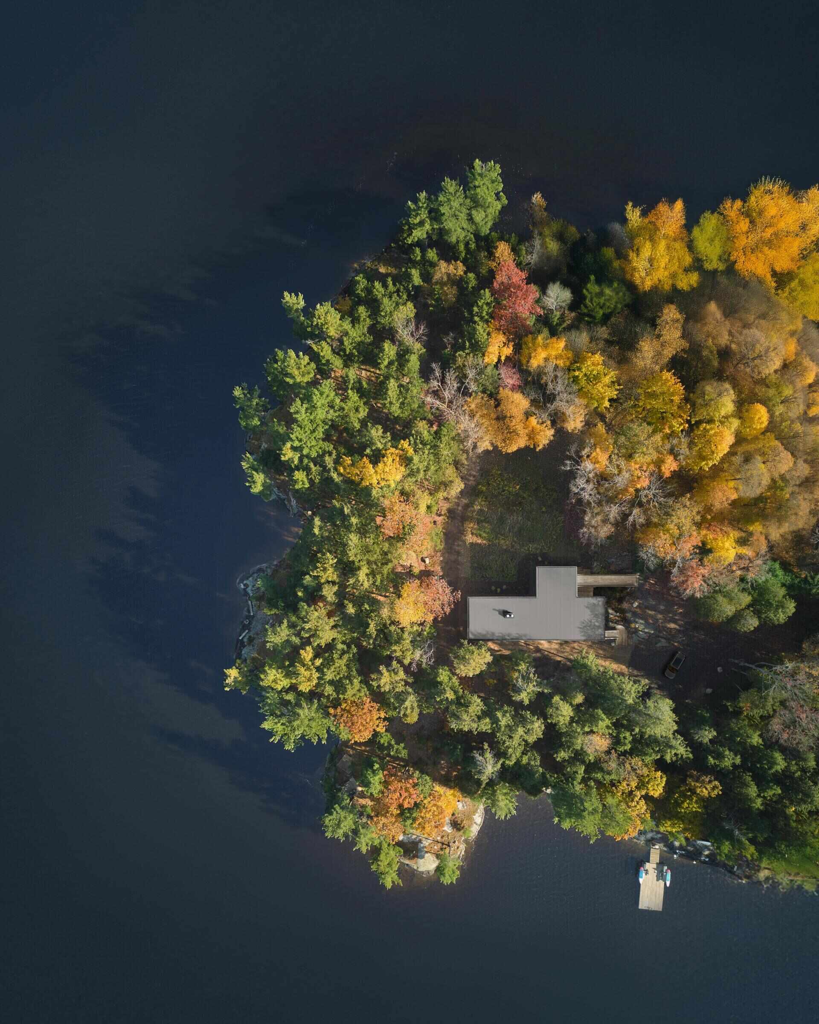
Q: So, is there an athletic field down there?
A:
No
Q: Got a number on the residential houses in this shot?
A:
1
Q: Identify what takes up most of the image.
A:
water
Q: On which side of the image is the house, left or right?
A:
right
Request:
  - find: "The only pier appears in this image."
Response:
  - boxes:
[638,848,666,912]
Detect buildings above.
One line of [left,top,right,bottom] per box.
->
[468,567,605,640]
